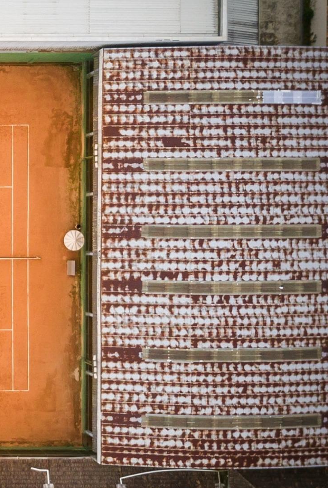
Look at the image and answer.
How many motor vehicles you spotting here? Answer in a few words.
0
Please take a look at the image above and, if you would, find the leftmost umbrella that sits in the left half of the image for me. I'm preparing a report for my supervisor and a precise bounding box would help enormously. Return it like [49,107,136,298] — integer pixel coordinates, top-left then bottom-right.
[64,229,84,250]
